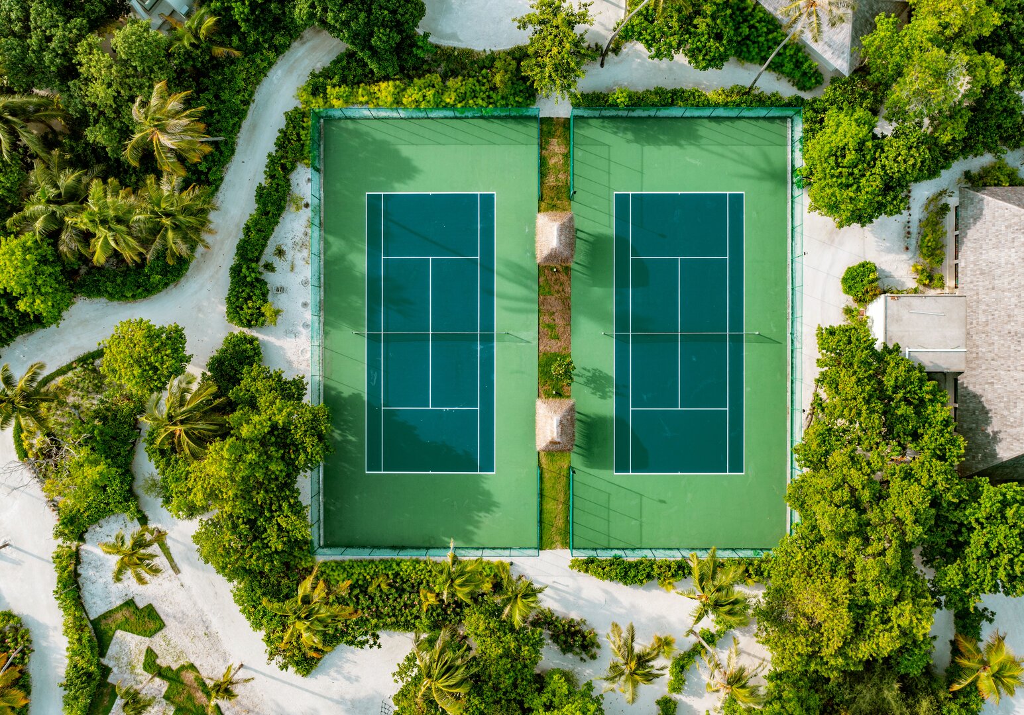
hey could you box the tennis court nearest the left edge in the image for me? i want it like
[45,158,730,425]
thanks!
[321,118,539,549]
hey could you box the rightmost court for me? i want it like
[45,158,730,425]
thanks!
[572,118,791,549]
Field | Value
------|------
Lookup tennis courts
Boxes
[321,118,539,549]
[572,118,791,549]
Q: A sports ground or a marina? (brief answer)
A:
sports ground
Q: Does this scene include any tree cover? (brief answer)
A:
Yes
